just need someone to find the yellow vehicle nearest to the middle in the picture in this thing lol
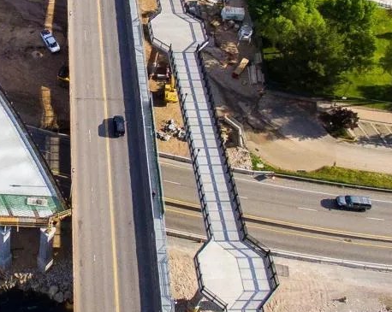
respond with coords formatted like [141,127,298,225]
[164,71,177,102]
